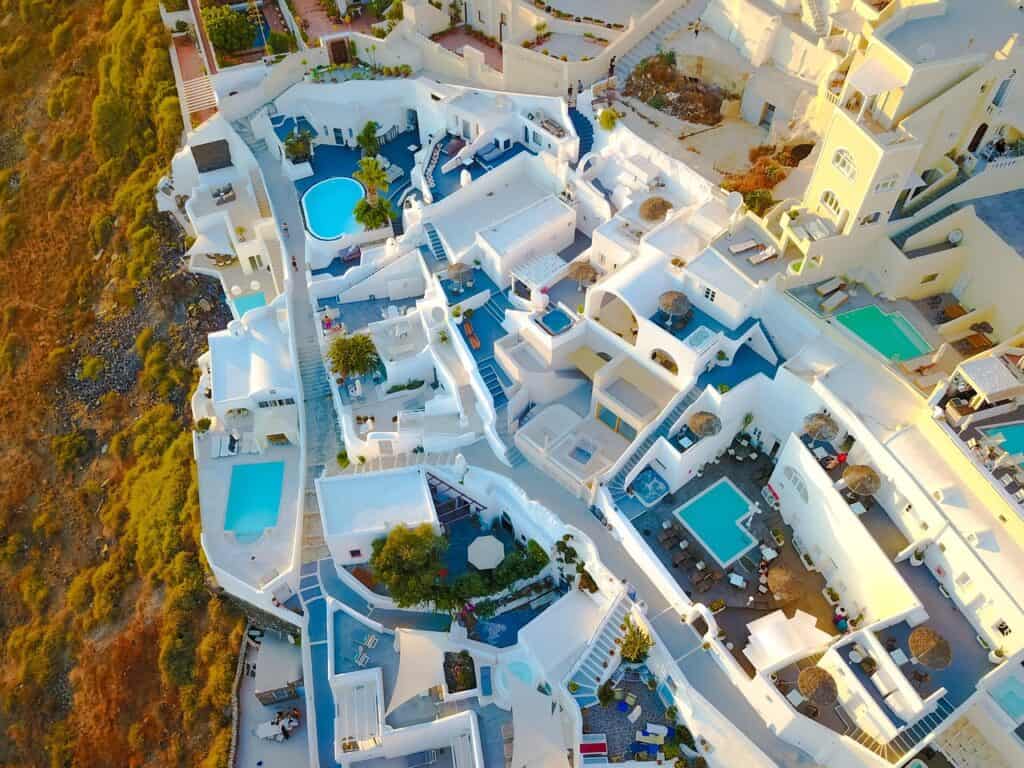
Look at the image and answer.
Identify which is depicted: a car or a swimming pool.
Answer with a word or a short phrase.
swimming pool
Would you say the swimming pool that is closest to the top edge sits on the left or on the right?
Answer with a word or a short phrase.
left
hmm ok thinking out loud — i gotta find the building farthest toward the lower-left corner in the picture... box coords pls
[256,640,303,703]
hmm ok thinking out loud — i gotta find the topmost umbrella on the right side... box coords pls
[643,195,674,226]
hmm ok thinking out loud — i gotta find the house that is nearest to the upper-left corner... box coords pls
[176,116,253,215]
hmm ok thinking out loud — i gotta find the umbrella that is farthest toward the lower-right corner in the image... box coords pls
[907,632,952,675]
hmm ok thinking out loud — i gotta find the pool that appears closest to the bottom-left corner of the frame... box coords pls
[221,459,287,547]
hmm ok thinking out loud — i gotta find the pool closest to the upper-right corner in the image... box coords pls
[835,304,935,361]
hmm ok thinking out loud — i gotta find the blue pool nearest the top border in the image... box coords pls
[302,177,365,240]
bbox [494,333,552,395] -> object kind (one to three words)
building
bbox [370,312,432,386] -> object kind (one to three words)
house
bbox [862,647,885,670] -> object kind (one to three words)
umbrella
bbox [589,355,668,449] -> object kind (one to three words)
house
